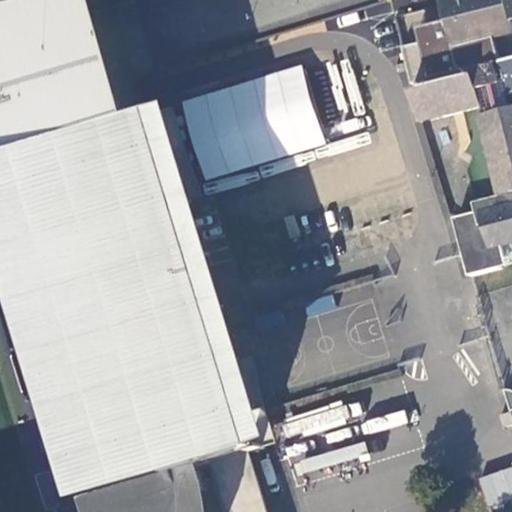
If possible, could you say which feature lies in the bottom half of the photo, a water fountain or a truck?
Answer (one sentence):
Looking in the bottom half of the photo, you will find a truck.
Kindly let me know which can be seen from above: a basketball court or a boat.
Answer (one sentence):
Visible in the photo is a basketball court.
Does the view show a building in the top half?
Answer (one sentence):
Yes, I can see a building in the top half.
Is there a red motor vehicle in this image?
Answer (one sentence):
No, there's no red motor vehicle here.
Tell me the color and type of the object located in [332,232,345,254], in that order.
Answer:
black vehicle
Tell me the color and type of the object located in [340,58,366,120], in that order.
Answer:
white trailer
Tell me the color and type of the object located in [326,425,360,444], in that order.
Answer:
white vehicle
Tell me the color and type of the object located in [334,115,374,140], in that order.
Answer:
white truck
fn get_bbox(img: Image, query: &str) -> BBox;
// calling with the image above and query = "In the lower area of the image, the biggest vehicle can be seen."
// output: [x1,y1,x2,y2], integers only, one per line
[282,404,362,439]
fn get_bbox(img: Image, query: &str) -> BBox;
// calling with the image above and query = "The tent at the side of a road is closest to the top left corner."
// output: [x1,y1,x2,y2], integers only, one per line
[182,66,326,184]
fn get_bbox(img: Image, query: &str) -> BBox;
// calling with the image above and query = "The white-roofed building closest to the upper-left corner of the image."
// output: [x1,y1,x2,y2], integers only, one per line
[0,0,120,142]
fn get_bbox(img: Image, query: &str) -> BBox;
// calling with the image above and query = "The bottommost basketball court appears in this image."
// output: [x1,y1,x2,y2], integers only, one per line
[256,293,396,396]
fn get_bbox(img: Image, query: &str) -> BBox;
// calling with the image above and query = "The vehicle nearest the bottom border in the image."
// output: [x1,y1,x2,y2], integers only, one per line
[260,458,277,492]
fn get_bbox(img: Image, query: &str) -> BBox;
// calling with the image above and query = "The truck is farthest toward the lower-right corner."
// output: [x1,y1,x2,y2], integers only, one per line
[360,408,420,436]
